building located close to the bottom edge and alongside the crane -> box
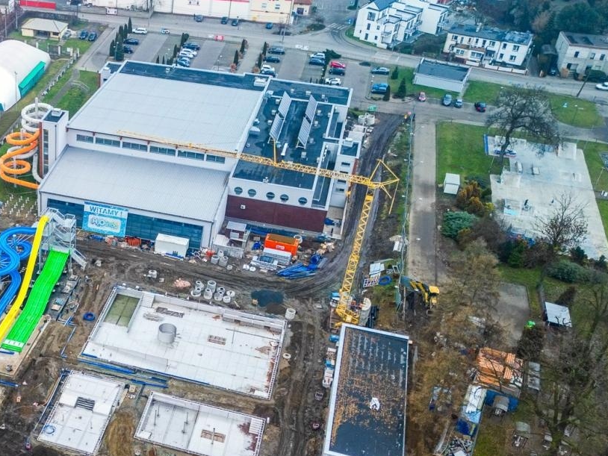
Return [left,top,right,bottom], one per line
[322,324,412,456]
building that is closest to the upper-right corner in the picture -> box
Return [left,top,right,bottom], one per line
[551,29,608,78]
